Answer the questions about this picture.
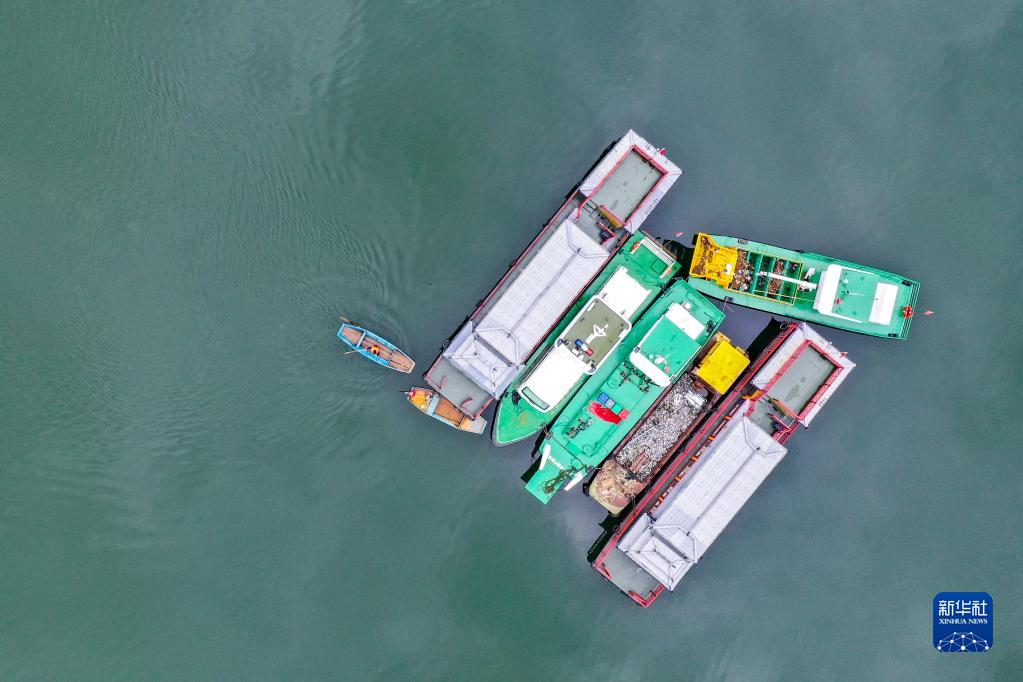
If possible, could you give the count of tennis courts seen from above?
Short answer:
0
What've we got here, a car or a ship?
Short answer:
ship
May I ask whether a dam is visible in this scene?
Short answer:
No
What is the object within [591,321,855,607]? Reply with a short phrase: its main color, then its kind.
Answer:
white ship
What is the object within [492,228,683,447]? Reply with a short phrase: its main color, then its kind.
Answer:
white boat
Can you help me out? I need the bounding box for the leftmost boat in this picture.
[337,324,416,373]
